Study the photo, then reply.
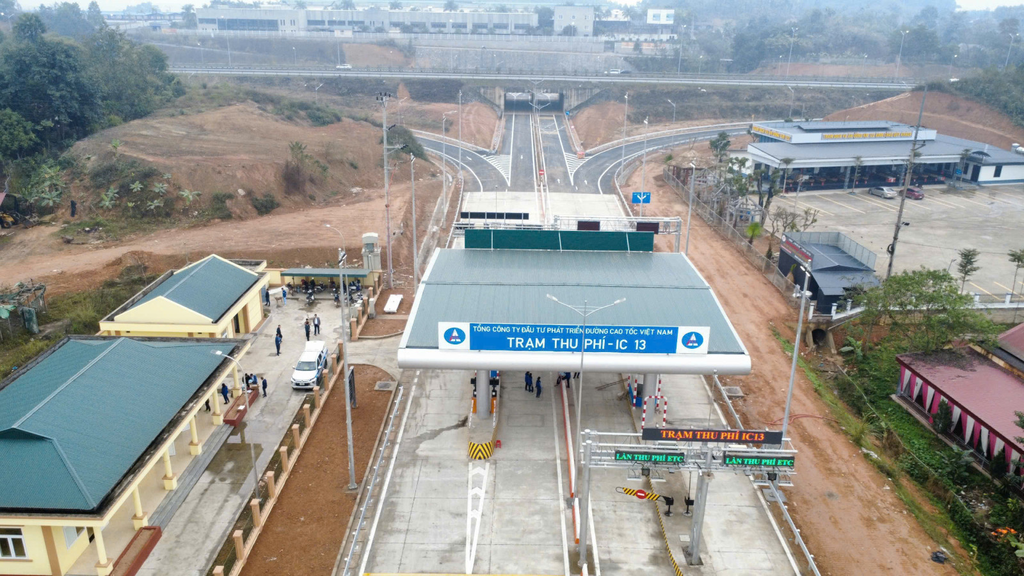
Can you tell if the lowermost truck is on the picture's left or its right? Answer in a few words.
left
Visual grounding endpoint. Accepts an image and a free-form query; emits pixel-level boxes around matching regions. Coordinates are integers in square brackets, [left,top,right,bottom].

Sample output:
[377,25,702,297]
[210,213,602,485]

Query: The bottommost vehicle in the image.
[283,338,327,384]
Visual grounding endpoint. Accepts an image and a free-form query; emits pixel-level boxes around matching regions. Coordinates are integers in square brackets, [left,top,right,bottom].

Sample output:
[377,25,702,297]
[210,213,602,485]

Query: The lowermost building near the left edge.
[0,334,251,576]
